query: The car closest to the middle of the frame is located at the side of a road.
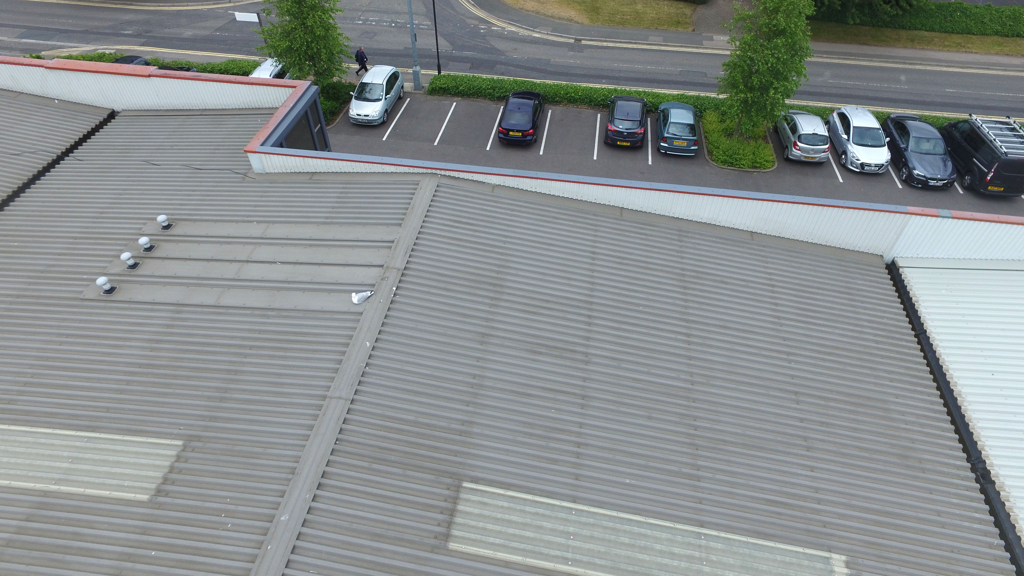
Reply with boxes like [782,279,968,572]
[500,92,546,145]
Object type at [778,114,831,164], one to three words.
car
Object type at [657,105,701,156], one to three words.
car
